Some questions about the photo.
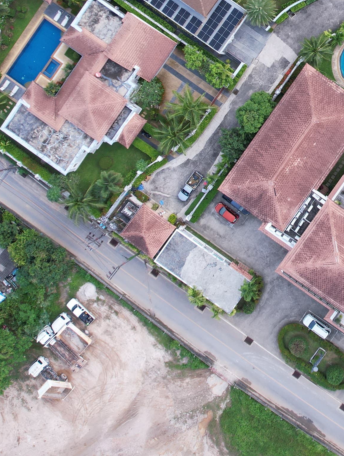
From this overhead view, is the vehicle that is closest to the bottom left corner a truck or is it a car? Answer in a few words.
truck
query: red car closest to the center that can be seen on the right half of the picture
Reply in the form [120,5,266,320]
[213,204,238,225]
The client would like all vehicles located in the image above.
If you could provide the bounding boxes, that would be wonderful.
[219,196,250,219]
[26,330,81,373]
[65,299,92,328]
[213,204,238,225]
[303,316,331,339]
[39,310,87,356]
[177,171,202,202]
[19,357,67,410]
